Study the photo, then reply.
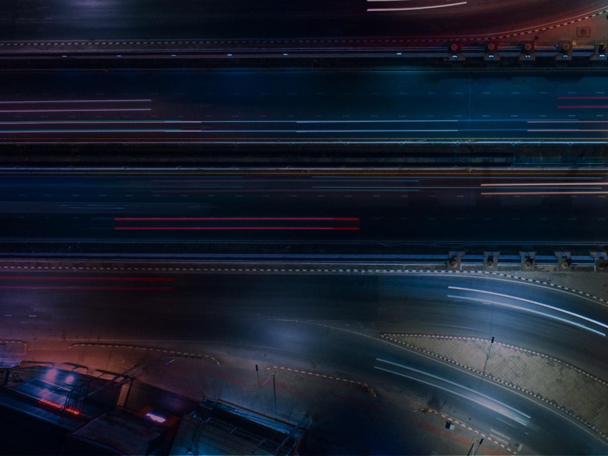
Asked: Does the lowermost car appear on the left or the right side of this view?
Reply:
right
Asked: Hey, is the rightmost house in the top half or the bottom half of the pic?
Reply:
bottom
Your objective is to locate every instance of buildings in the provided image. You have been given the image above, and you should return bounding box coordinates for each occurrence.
[174,392,309,456]
[0,366,129,456]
